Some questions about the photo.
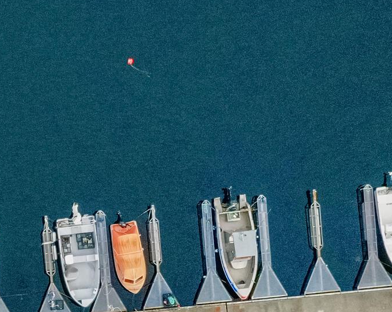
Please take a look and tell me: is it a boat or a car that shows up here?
boat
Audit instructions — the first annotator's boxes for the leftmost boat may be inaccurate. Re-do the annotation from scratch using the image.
[58,200,101,307]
